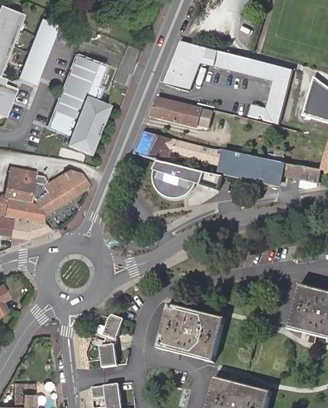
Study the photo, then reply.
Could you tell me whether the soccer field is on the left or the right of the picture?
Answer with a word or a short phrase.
right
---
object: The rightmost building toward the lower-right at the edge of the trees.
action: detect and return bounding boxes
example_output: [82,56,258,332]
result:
[286,284,328,342]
